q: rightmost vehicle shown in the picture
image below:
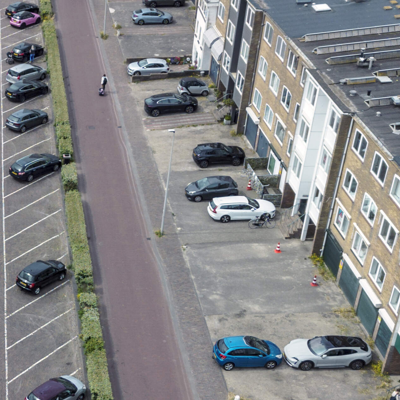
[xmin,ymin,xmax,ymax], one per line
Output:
[284,334,381,371]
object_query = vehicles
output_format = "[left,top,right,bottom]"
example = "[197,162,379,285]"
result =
[284,334,381,371]
[7,41,46,63]
[205,192,277,222]
[189,140,247,168]
[130,6,175,24]
[181,171,241,202]
[7,9,42,28]
[5,151,64,182]
[178,74,211,94]
[125,53,172,73]
[1,63,48,85]
[2,106,52,132]
[2,77,52,101]
[140,92,199,116]
[140,0,186,7]
[210,335,286,371]
[22,375,88,400]
[11,257,70,295]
